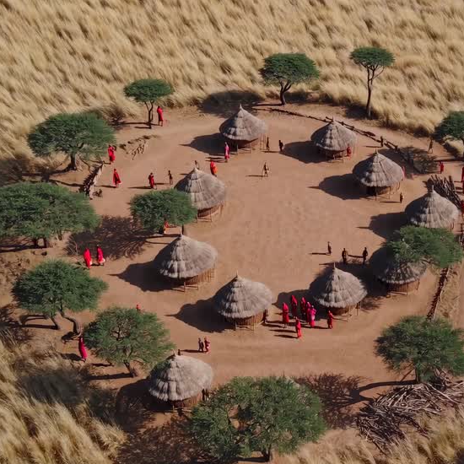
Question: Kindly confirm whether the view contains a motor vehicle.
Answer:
No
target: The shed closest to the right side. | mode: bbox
[406,181,461,231]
